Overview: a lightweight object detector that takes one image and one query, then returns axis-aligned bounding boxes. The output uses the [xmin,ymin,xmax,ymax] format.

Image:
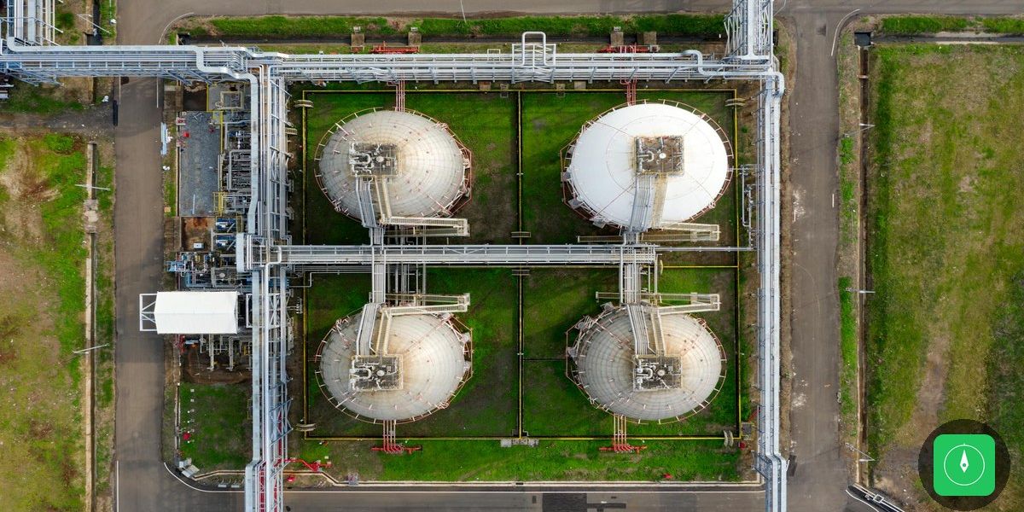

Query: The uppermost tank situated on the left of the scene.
[313,105,471,225]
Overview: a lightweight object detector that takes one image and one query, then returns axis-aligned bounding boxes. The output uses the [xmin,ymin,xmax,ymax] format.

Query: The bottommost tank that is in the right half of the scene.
[565,309,729,426]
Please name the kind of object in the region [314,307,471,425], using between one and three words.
storage tank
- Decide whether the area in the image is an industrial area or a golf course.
industrial area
